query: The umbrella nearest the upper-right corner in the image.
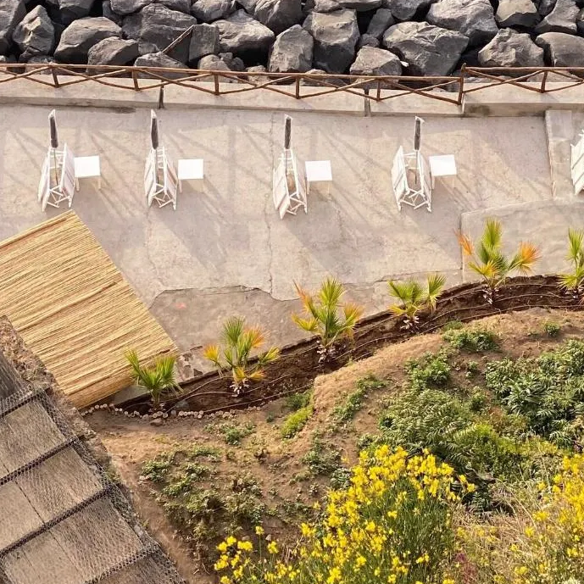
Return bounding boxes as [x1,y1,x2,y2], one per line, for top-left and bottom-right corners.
[409,114,424,189]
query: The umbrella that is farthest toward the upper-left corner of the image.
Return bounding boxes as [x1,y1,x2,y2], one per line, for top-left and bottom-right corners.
[42,113,60,188]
